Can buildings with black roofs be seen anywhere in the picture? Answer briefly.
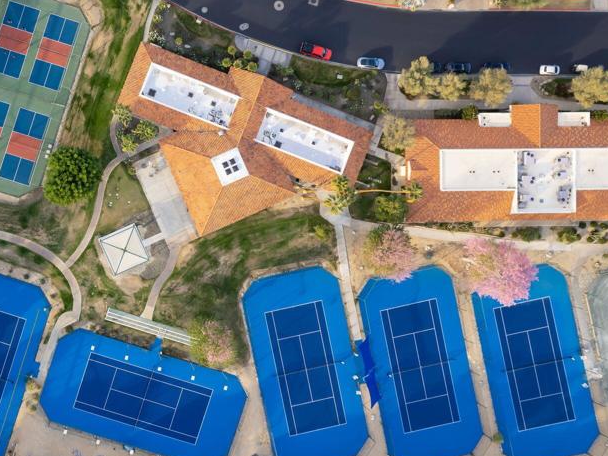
No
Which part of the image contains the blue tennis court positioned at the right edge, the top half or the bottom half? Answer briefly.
bottom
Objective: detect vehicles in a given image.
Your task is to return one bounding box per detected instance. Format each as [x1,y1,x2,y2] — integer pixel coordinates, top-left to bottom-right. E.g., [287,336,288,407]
[485,59,513,72]
[575,64,594,72]
[301,41,332,59]
[359,56,385,69]
[425,60,450,72]
[540,63,563,74]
